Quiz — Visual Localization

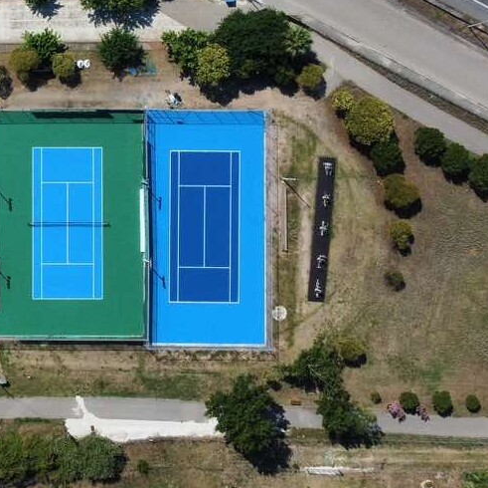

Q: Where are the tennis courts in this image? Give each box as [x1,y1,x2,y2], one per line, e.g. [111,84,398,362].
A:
[150,113,265,345]
[0,114,144,336]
